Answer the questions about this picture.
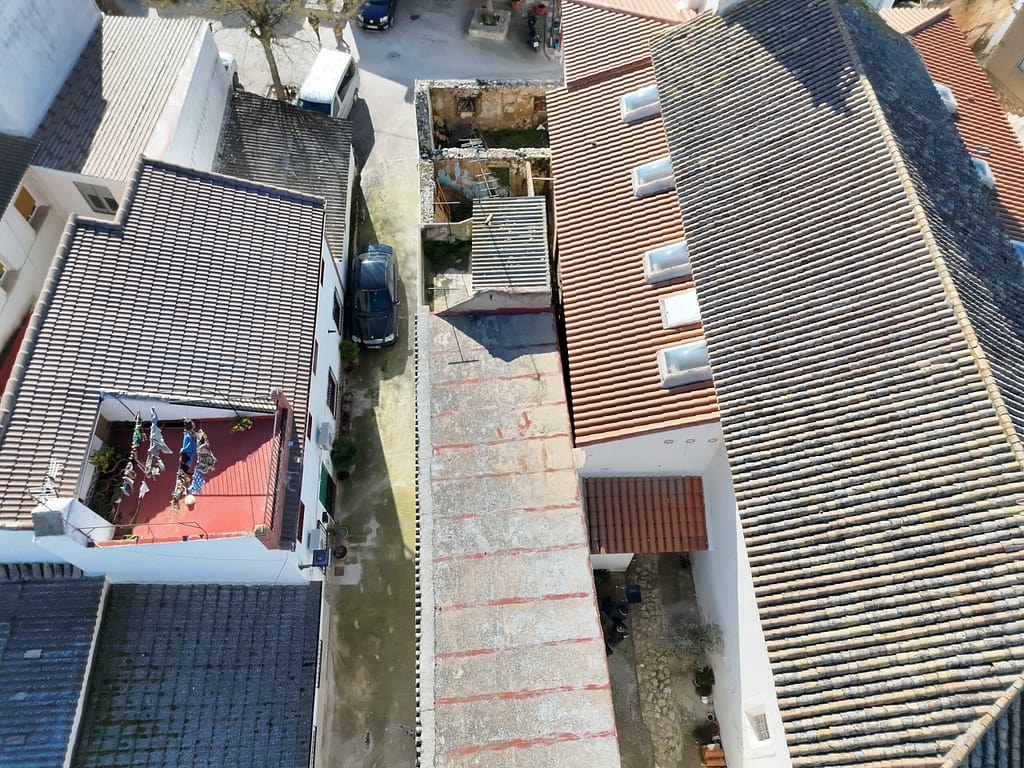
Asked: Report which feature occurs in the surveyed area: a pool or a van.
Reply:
van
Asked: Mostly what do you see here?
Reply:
buildings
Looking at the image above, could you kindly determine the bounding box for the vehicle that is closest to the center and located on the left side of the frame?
[346,249,401,352]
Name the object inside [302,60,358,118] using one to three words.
van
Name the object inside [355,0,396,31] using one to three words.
car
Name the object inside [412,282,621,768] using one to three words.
building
